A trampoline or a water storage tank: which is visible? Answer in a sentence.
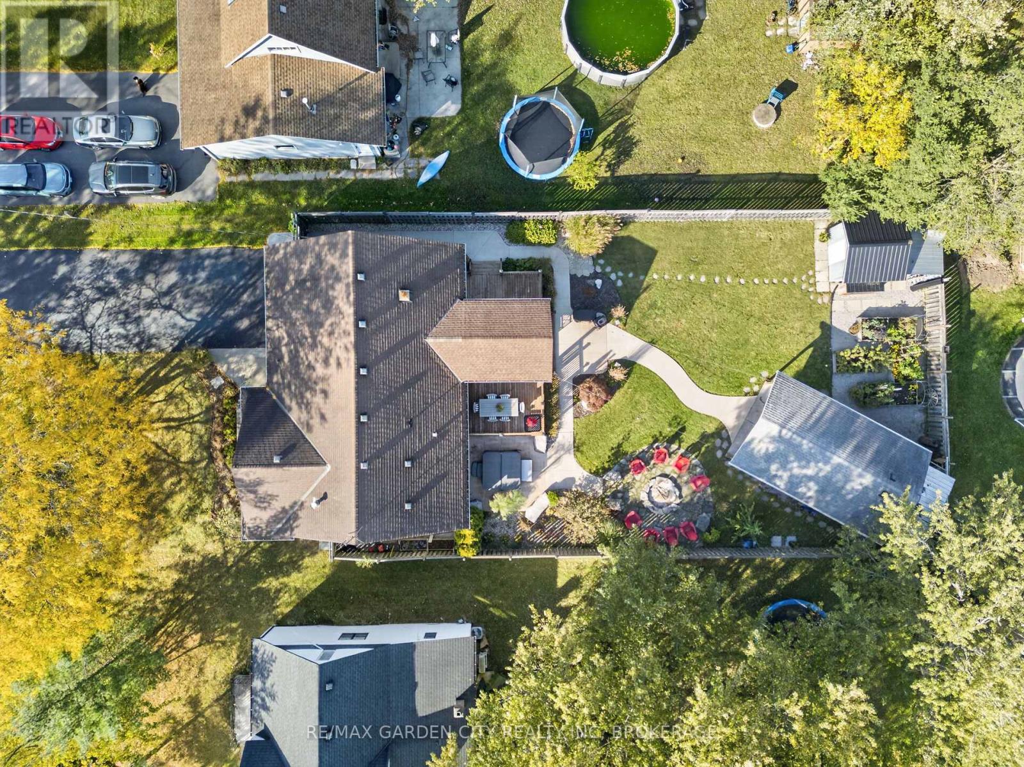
I can see a trampoline in this picture.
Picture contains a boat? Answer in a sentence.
Yes, there's a boat here.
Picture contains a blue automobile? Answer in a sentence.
Yes, the photo shows a blue automobile.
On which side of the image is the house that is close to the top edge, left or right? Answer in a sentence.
You can find the house that is close to the top edge on the left side of the picture.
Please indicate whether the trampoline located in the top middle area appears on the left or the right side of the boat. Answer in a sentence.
The trampoline located in the top middle area can be seen on the right of the boat.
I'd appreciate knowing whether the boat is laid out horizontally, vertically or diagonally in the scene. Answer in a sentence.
What the image shows is the boat lying diagonally.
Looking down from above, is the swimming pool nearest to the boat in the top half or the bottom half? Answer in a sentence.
You can find the swimming pool nearest to the boat in the top half.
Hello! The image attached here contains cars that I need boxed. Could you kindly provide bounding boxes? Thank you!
[0,110,65,152]
[0,157,72,200]
[88,157,179,201]
[71,108,163,152]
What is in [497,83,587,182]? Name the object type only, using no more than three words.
trampoline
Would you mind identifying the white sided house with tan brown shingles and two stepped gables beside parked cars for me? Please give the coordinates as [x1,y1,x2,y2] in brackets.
[175,0,389,160]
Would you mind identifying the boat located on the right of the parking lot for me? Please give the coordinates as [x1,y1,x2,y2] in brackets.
[416,150,450,187]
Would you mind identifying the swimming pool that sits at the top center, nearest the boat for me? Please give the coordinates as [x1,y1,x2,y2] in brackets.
[559,0,680,87]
